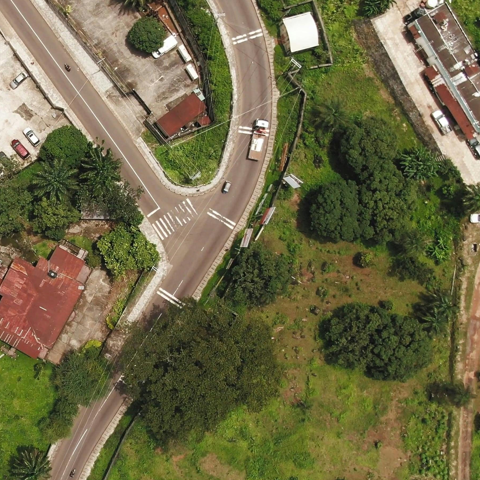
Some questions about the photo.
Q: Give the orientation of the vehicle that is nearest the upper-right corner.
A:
at an angle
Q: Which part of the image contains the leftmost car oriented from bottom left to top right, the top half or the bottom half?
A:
top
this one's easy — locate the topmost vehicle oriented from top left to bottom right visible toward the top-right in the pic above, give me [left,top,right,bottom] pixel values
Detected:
[430,110,454,135]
